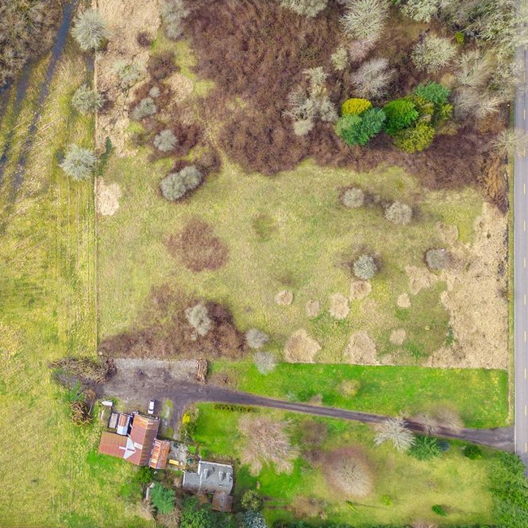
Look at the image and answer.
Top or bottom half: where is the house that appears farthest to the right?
bottom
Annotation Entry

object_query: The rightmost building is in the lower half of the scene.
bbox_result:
[182,454,234,506]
